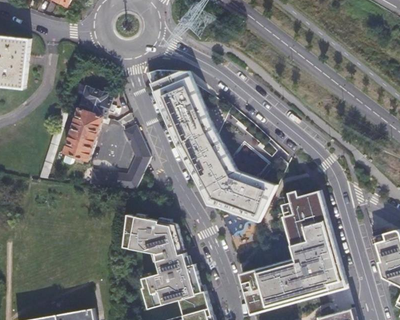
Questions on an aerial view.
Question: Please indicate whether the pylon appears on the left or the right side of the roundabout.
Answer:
right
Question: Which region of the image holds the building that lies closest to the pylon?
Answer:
center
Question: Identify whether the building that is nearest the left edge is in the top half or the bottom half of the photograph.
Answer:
top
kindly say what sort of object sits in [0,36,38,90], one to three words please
building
